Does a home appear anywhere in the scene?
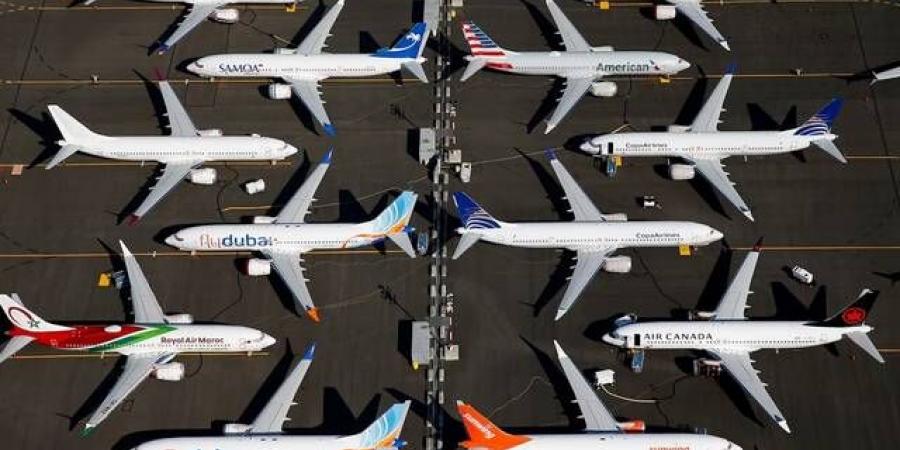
No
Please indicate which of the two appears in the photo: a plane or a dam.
plane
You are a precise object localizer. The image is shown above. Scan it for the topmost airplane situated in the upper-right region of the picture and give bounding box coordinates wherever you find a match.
[654,0,726,49]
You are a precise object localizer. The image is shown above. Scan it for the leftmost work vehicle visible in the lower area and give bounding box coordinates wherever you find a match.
[96,272,111,286]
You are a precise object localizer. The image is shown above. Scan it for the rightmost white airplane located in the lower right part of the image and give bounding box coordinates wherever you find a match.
[601,245,883,428]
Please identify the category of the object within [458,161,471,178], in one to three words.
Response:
vehicle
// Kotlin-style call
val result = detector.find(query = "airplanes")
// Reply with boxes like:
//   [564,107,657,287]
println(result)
[869,68,900,84]
[461,0,692,131]
[454,348,742,450]
[451,154,725,317]
[127,348,415,450]
[579,69,846,217]
[147,0,294,52]
[654,0,726,49]
[46,75,298,222]
[0,249,276,431]
[163,155,420,318]
[601,245,883,428]
[185,0,431,133]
